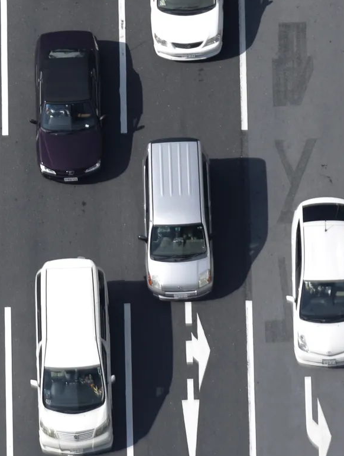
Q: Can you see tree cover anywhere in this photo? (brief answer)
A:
No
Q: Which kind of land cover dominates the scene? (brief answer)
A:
paved ground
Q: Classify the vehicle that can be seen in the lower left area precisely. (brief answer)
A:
car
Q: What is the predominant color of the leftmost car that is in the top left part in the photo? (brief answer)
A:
black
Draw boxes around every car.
[144,0,227,60]
[285,198,344,365]
[29,32,109,183]
[30,256,117,455]
[137,134,219,299]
